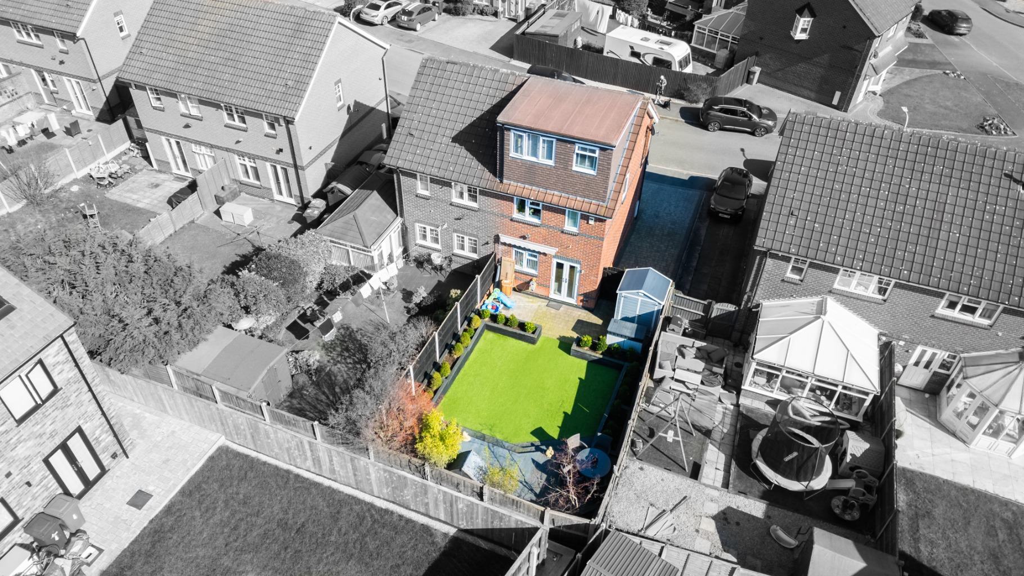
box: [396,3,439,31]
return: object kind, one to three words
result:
car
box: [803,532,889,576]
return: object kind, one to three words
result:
shed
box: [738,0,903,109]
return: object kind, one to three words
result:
house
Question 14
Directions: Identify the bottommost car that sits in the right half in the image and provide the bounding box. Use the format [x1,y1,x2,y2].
[708,157,756,215]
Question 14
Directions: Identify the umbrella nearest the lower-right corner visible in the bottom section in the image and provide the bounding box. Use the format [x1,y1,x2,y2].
[638,497,688,540]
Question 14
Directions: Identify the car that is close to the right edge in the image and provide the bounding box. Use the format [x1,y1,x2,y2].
[929,11,973,39]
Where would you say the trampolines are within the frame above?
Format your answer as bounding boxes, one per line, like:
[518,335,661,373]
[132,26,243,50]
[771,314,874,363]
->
[749,404,840,508]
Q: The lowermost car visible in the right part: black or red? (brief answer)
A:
black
